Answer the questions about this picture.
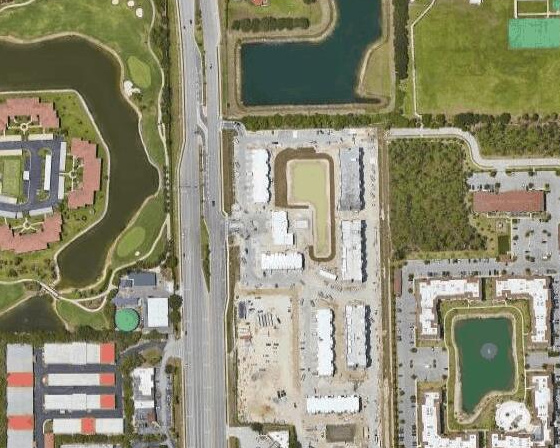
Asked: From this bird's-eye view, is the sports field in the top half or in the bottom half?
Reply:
top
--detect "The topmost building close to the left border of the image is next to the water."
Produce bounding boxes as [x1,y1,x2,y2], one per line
[0,98,59,131]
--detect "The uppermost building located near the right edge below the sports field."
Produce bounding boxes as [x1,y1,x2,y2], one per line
[474,191,545,212]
